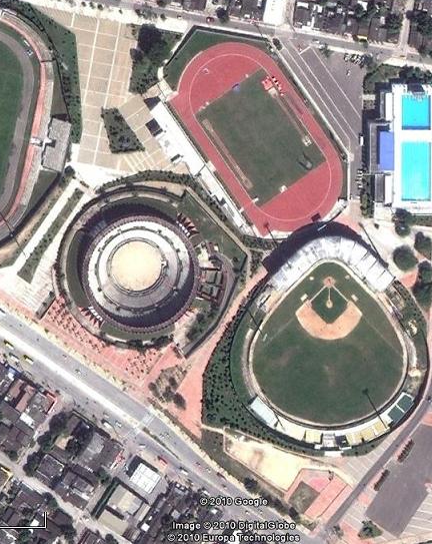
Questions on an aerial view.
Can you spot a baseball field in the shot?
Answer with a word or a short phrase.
Yes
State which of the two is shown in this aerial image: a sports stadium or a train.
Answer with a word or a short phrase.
sports stadium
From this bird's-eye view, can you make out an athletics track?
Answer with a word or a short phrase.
Yes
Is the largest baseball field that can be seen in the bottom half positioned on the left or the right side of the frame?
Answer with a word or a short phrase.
right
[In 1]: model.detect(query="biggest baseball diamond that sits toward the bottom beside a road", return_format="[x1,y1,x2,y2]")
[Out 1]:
[252,263,404,425]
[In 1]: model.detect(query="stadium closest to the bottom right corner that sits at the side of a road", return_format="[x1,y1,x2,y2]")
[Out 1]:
[240,225,418,449]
